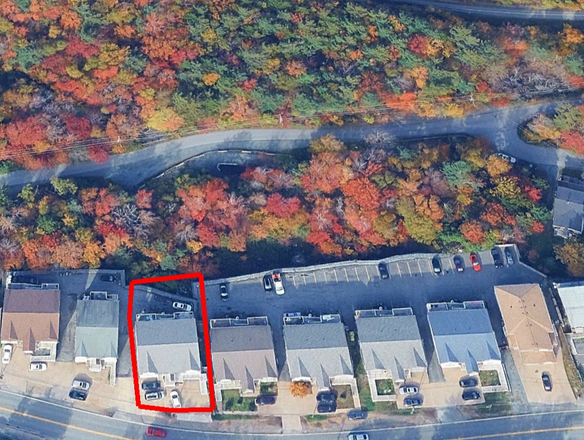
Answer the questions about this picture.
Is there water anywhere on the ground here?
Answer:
No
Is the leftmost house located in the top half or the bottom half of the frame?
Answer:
bottom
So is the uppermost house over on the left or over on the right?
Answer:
right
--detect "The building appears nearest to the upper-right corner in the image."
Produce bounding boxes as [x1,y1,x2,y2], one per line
[552,175,584,240]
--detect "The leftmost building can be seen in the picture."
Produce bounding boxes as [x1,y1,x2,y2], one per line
[1,282,61,363]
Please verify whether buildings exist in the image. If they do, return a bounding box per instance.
[425,299,511,394]
[283,313,361,408]
[210,315,277,403]
[1,282,61,363]
[355,304,427,403]
[556,281,584,343]
[74,291,119,386]
[552,175,584,240]
[493,283,562,367]
[136,311,209,395]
